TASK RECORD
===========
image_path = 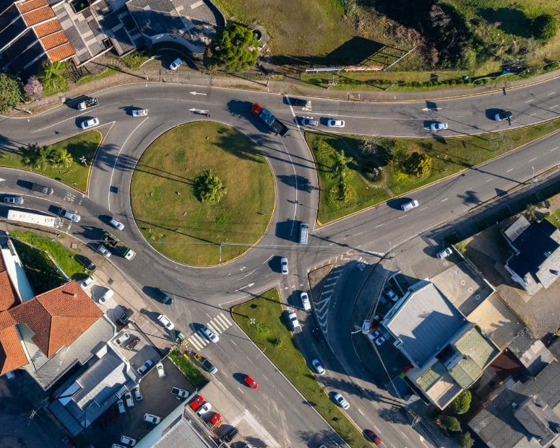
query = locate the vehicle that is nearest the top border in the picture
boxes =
[169,55,184,71]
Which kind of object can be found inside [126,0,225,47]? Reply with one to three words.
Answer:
building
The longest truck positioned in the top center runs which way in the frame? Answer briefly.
at an angle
